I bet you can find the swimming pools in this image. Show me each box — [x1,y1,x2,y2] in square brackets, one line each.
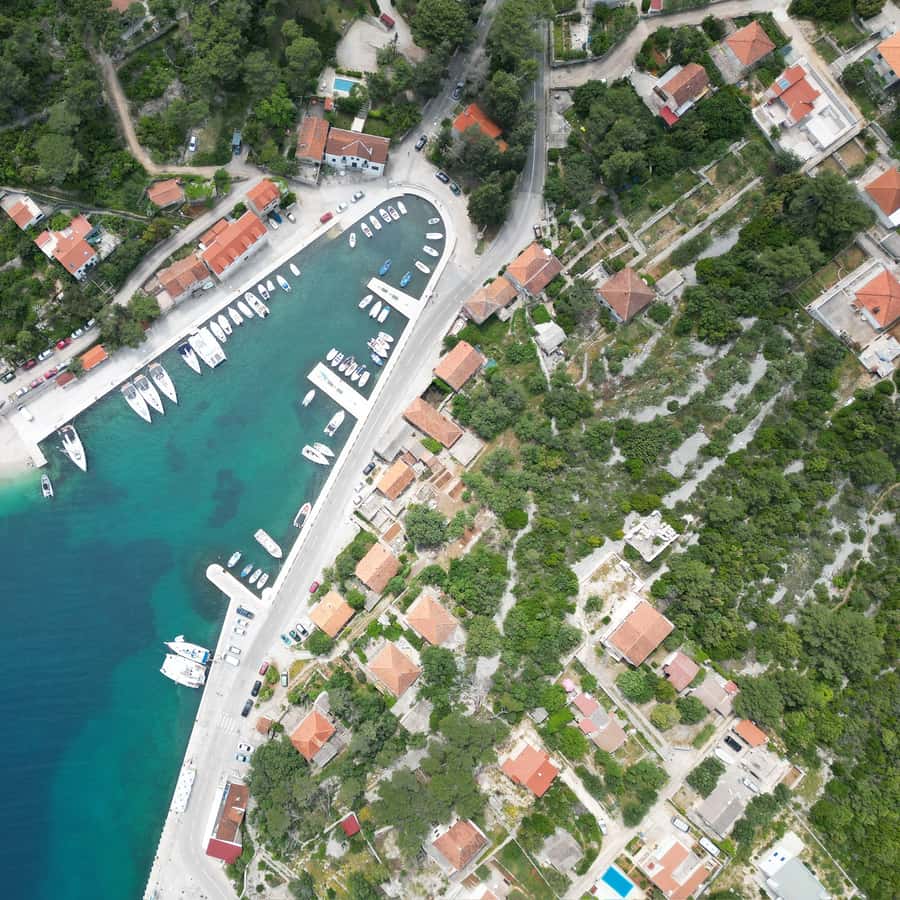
[332,76,354,93]
[599,863,635,900]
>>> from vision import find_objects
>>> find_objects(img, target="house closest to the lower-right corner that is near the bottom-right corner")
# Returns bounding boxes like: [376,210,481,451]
[751,824,830,900]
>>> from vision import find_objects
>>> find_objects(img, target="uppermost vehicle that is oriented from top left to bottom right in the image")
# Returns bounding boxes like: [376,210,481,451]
[381,11,395,26]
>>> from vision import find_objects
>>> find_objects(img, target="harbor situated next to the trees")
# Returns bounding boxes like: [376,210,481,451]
[3,150,542,900]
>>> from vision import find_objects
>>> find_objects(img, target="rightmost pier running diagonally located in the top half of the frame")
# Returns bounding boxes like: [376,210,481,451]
[367,278,419,318]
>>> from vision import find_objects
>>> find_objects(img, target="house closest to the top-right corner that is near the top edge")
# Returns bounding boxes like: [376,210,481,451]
[869,30,900,88]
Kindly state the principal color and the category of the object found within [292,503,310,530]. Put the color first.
white boat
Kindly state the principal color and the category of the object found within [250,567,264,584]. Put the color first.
white boat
